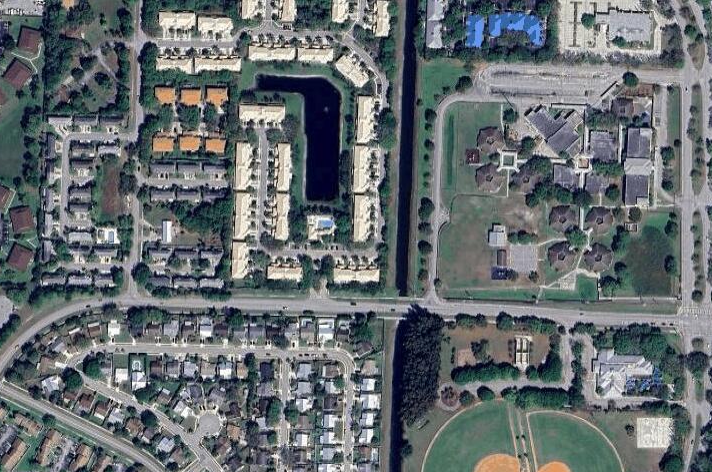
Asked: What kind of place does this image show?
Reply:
residential area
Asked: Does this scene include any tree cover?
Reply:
Yes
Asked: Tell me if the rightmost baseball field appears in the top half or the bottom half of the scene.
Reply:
bottom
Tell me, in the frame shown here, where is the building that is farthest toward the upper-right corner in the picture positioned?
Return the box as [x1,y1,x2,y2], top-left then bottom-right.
[597,11,650,44]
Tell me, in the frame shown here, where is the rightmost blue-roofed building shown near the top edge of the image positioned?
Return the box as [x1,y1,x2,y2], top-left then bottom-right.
[487,12,546,45]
